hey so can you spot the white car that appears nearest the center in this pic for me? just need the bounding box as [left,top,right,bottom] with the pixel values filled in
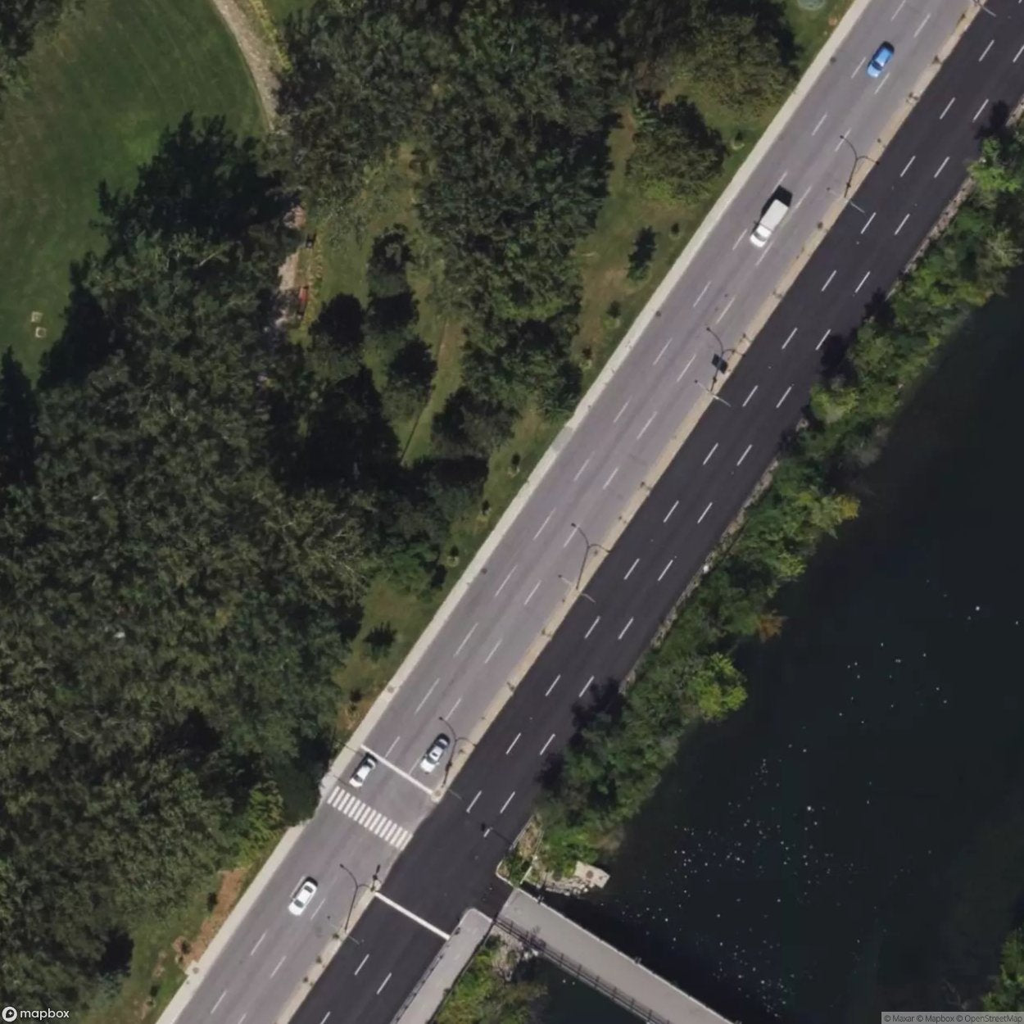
[420,735,450,771]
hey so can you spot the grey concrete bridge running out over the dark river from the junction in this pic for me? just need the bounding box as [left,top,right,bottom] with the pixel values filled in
[494,889,731,1024]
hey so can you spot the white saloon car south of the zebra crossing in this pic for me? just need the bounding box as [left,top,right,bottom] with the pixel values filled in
[288,879,318,915]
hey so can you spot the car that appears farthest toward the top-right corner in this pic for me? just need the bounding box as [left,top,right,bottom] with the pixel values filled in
[868,44,896,77]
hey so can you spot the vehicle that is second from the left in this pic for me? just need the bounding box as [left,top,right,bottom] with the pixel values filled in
[350,756,377,789]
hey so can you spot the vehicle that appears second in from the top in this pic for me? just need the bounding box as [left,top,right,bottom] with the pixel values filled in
[751,199,790,248]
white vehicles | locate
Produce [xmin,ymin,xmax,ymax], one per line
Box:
[350,756,377,789]
[420,735,450,771]
[288,879,318,915]
[751,199,790,248]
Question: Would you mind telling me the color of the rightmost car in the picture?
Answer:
blue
